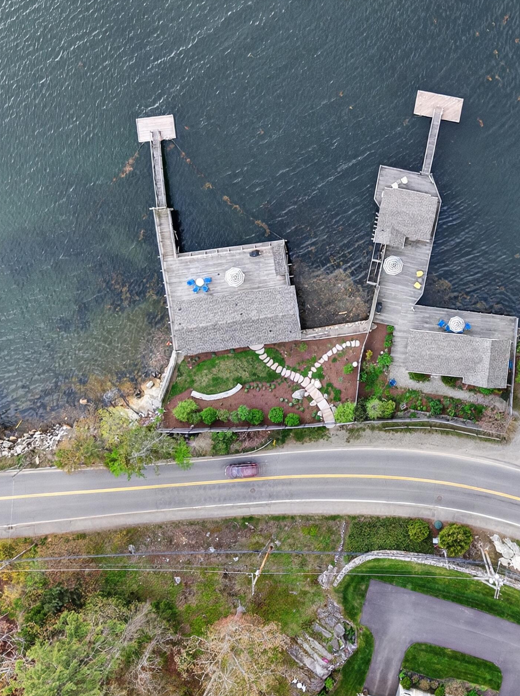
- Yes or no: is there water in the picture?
Yes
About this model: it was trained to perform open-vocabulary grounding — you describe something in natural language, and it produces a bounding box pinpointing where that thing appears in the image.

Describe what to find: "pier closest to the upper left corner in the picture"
[135,113,176,144]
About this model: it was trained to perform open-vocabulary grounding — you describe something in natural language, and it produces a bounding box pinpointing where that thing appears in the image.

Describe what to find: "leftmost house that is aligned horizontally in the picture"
[172,285,302,354]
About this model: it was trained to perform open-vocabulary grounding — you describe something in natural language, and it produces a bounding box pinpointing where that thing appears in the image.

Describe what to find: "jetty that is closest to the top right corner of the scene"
[413,90,465,123]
